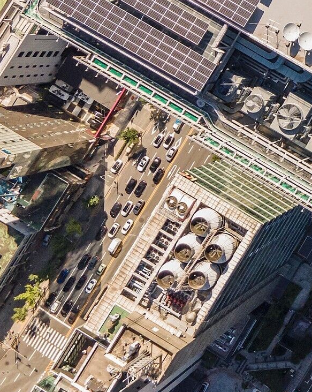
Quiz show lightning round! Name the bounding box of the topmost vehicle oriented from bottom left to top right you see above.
[168,113,186,133]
